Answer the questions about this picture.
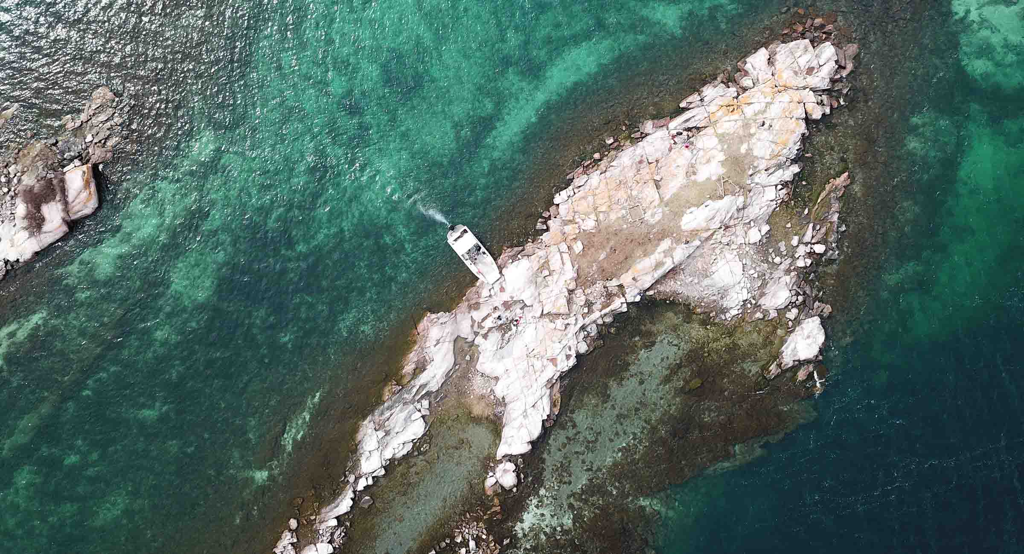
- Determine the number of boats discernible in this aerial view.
1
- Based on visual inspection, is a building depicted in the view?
No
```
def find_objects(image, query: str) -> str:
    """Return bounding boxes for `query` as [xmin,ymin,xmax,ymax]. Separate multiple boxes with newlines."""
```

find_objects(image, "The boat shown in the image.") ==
[447,223,502,285]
